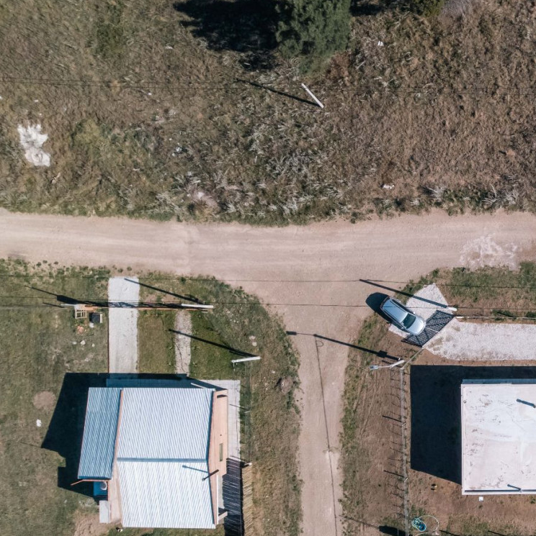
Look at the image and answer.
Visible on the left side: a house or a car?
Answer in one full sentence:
Visible on the left side is a house.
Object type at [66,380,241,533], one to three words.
house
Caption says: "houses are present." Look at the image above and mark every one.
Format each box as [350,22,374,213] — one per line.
[66,380,241,533]
[462,377,536,494]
